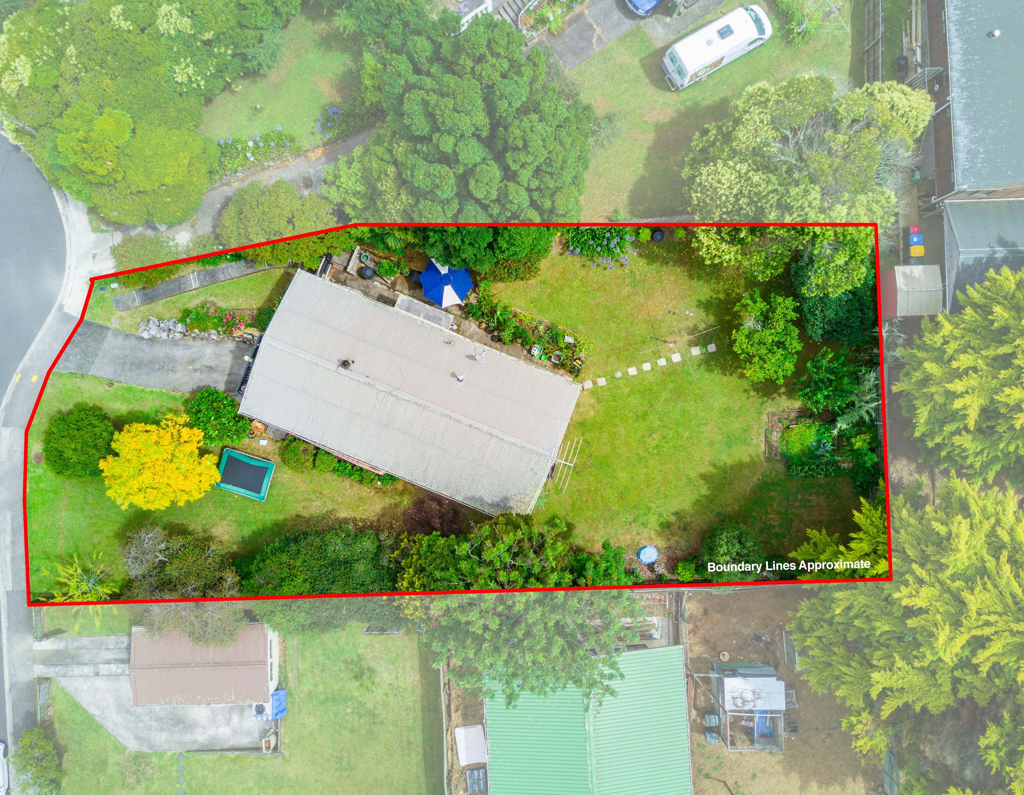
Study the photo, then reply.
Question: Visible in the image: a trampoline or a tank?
trampoline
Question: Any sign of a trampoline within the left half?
Yes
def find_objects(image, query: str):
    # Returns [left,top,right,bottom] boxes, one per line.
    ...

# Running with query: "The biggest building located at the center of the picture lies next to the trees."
[227,265,583,527]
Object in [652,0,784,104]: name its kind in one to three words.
van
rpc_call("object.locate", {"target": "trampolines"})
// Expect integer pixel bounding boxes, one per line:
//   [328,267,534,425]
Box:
[216,448,278,500]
